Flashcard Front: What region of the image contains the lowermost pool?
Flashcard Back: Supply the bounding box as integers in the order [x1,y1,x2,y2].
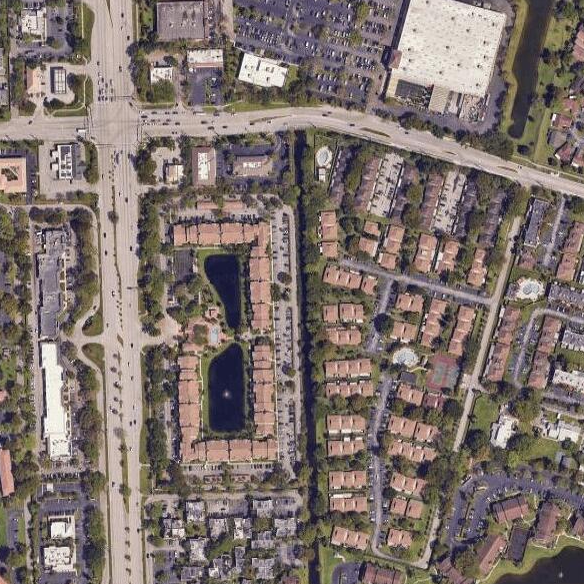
[393,347,418,368]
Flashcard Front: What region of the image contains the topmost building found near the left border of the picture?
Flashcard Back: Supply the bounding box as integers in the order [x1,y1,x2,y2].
[21,9,46,39]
